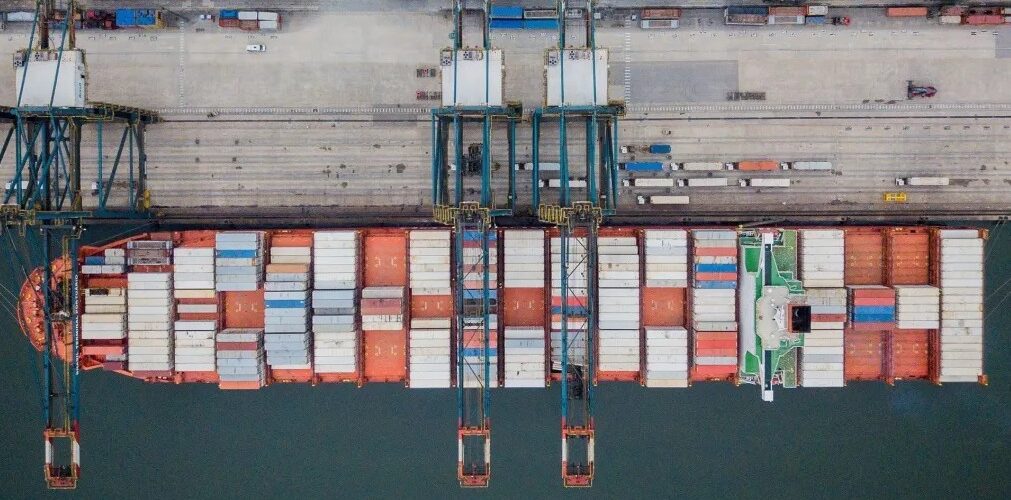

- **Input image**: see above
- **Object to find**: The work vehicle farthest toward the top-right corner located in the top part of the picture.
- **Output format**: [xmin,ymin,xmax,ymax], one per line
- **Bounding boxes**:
[909,78,942,98]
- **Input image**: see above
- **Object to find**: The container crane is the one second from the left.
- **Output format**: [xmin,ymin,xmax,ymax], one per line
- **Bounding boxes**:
[424,0,522,489]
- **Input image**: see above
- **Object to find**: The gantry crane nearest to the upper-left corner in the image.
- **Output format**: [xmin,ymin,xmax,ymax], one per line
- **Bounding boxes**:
[0,0,173,491]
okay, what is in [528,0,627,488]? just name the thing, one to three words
container crane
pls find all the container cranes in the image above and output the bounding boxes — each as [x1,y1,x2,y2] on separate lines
[0,0,173,491]
[528,0,627,488]
[424,0,522,489]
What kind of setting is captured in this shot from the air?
port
